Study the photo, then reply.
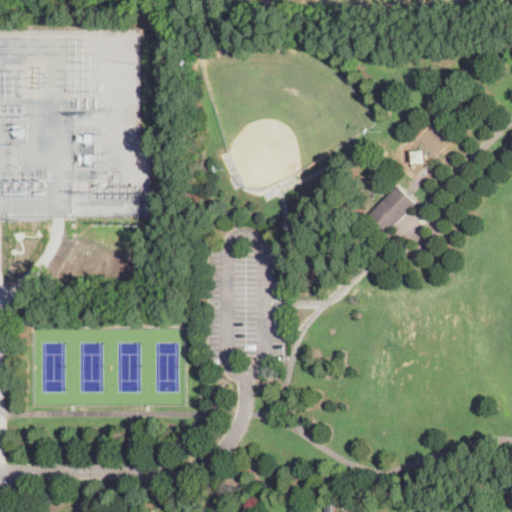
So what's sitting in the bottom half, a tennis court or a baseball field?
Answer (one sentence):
The one visible in the bottom half is a tennis court.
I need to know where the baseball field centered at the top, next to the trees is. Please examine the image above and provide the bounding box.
[205,53,373,189]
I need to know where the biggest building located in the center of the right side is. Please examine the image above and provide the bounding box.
[368,187,414,230]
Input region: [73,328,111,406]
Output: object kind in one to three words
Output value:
tennis court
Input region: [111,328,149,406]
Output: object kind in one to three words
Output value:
tennis court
